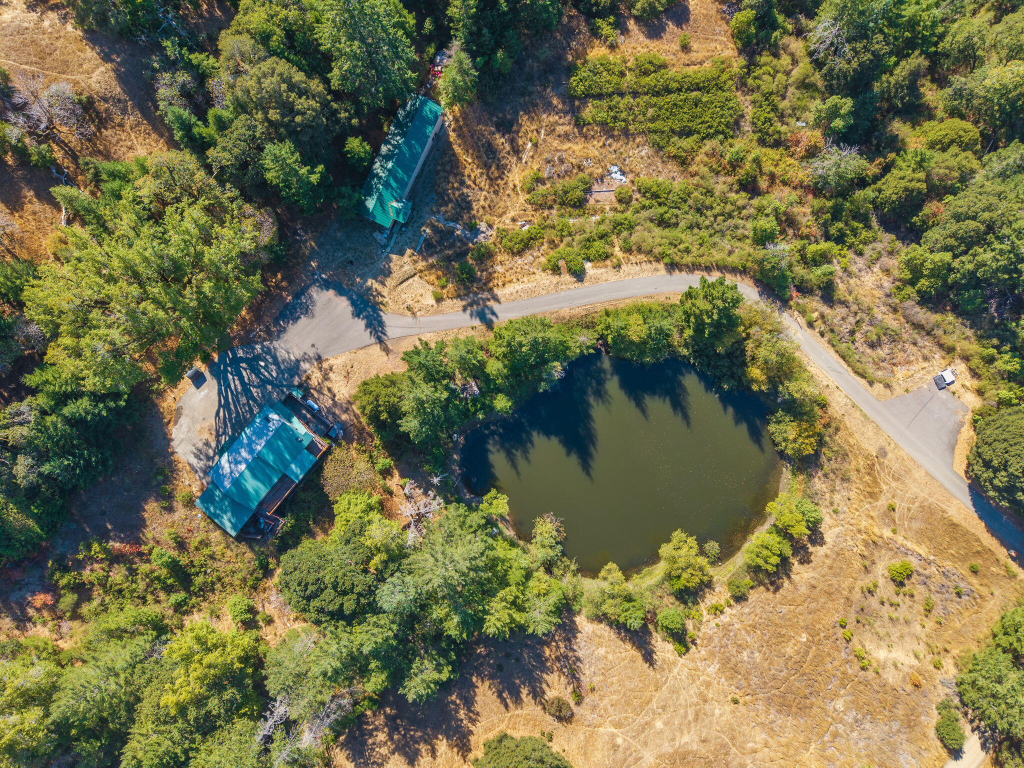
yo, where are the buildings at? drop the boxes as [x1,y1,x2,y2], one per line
[353,88,447,234]
[194,393,333,537]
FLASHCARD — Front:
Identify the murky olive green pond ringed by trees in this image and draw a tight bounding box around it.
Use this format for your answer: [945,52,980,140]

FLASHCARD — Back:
[456,346,784,574]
